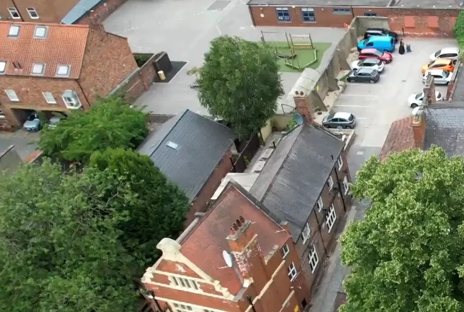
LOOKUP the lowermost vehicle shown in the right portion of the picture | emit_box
[321,107,361,129]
